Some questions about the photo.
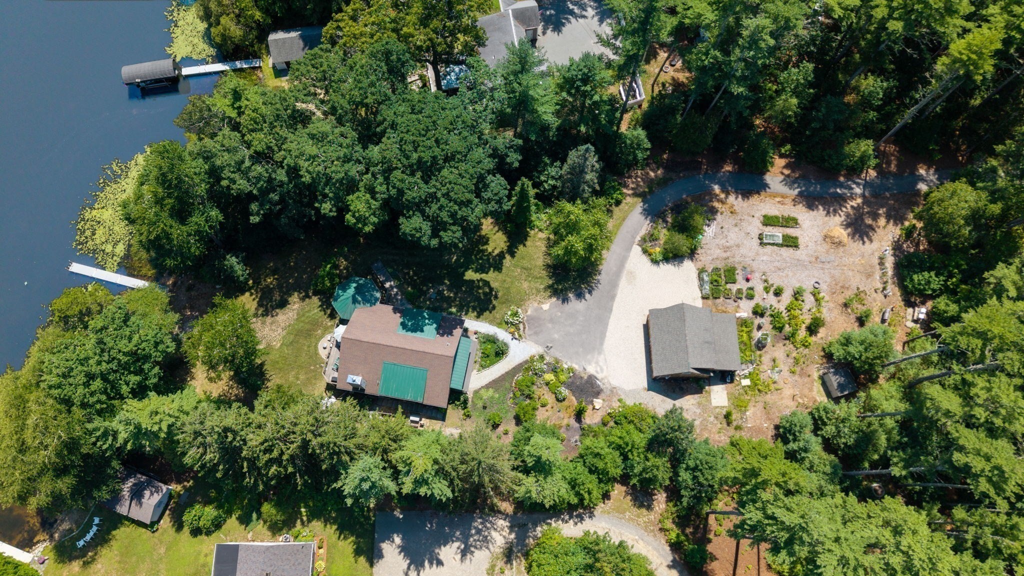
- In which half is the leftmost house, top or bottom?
bottom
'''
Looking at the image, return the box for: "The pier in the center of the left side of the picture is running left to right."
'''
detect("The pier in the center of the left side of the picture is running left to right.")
[60,261,171,295]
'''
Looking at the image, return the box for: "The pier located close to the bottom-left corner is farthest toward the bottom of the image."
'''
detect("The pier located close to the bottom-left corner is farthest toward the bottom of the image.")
[0,535,34,565]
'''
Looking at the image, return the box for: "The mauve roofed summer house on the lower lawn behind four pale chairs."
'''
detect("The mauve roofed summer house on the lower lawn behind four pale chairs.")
[104,468,175,523]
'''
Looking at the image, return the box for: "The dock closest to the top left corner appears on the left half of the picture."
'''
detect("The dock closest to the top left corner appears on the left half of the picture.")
[181,58,261,74]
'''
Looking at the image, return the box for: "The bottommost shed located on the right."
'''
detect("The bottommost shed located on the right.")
[813,367,857,400]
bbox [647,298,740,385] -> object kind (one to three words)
building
